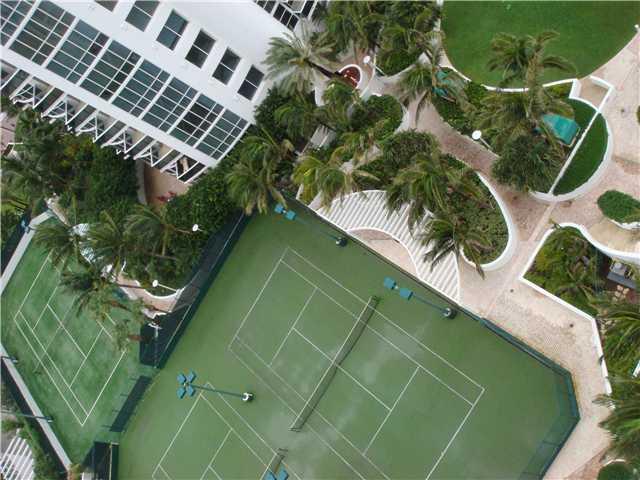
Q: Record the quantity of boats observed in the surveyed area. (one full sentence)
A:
The photo contains no boats.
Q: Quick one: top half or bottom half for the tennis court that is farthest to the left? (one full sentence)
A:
It is in the bottom half that the tennis court that is farthest to the left appears.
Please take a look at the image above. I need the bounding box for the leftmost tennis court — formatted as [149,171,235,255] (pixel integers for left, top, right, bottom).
[0,212,191,480]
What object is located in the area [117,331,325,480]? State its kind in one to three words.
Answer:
tennis court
